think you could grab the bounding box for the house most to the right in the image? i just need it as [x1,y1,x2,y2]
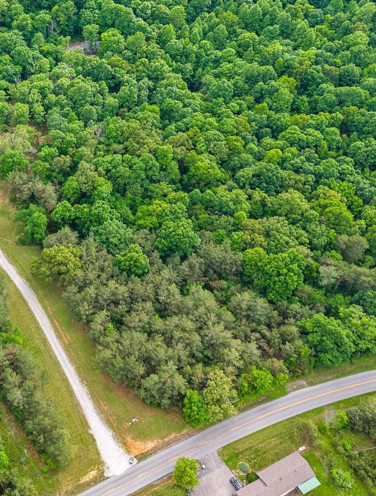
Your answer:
[234,450,320,496]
